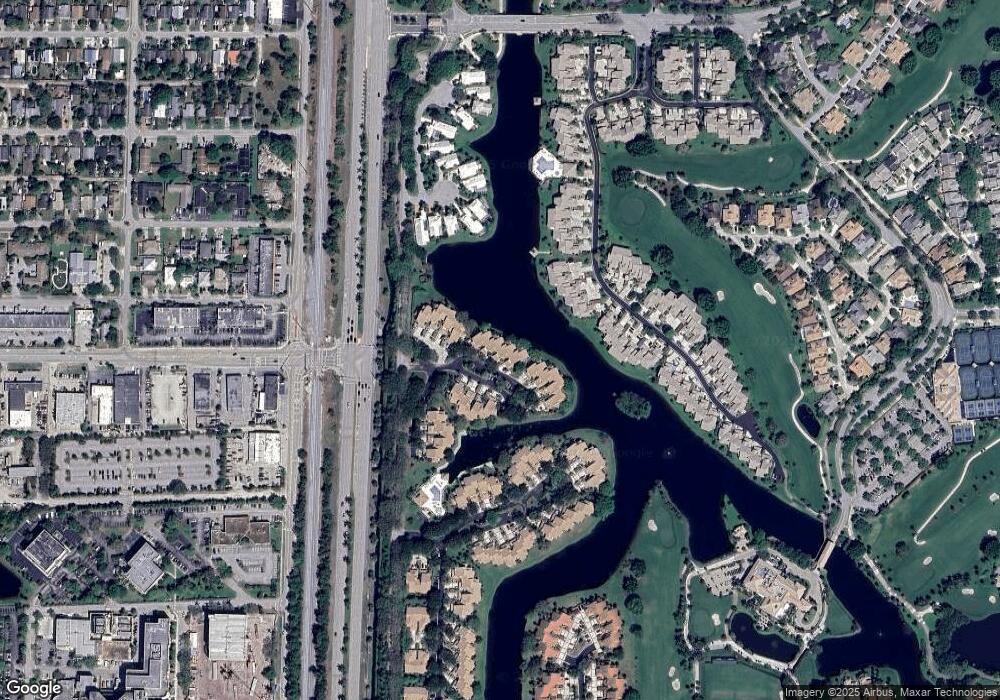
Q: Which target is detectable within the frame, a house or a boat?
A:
house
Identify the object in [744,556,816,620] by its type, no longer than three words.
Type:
building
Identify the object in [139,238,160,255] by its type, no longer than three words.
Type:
house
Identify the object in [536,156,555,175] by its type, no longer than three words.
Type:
swimming pool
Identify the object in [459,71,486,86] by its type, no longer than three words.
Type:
house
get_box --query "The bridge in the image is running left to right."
[497,14,541,34]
